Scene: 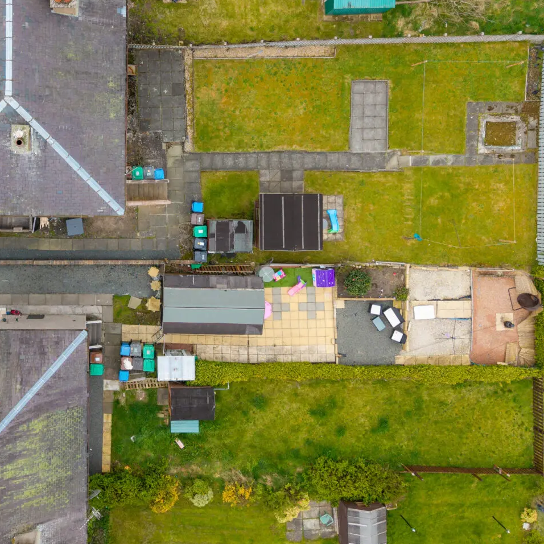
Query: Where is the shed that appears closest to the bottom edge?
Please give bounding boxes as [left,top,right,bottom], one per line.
[339,496,388,544]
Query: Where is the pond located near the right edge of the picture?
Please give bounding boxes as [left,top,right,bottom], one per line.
[479,114,527,153]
